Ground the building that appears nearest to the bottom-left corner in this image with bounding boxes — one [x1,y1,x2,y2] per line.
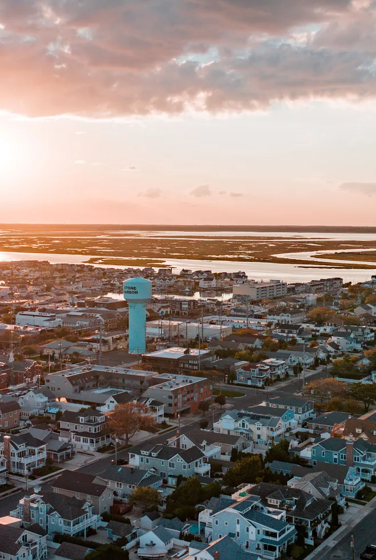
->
[0,521,51,560]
